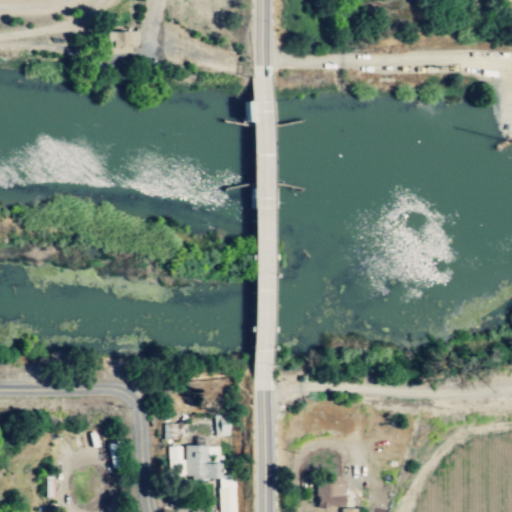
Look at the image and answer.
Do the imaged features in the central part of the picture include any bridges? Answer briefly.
Yes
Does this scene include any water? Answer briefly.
Yes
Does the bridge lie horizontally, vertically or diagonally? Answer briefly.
vertically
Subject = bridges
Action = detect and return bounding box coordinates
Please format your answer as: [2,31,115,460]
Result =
[247,60,280,390]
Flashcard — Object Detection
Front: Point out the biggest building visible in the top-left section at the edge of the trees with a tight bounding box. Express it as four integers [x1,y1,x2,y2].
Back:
[110,30,140,50]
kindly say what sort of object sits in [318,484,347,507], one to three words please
house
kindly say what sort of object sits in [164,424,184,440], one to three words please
shed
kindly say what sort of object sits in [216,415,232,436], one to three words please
shed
